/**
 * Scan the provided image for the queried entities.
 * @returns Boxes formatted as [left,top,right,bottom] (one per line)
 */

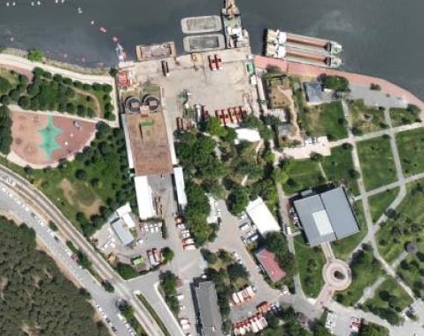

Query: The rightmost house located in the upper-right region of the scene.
[303,81,324,102]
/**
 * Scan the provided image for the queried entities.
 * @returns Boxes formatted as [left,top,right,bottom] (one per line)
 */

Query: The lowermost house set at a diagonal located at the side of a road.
[254,248,286,282]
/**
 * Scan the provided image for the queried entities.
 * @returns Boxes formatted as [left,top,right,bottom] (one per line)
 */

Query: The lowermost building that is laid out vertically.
[196,277,225,336]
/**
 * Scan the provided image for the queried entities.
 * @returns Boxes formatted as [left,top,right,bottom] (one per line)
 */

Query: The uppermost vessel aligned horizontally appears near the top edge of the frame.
[180,16,223,34]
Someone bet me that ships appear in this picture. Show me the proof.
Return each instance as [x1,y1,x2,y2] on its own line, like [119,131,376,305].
[221,0,251,48]
[180,16,223,34]
[264,29,342,53]
[263,44,342,66]
[182,33,225,53]
[136,41,176,61]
